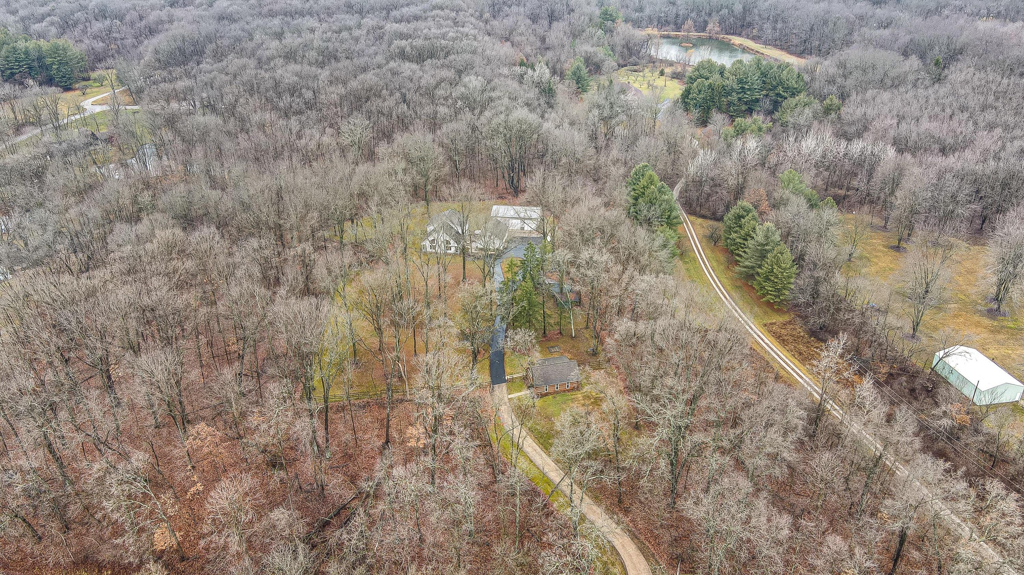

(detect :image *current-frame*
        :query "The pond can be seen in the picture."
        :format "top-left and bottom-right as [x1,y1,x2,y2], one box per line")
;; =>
[647,36,759,69]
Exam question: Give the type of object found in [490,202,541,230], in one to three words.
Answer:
barn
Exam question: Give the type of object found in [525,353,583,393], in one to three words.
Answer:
building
